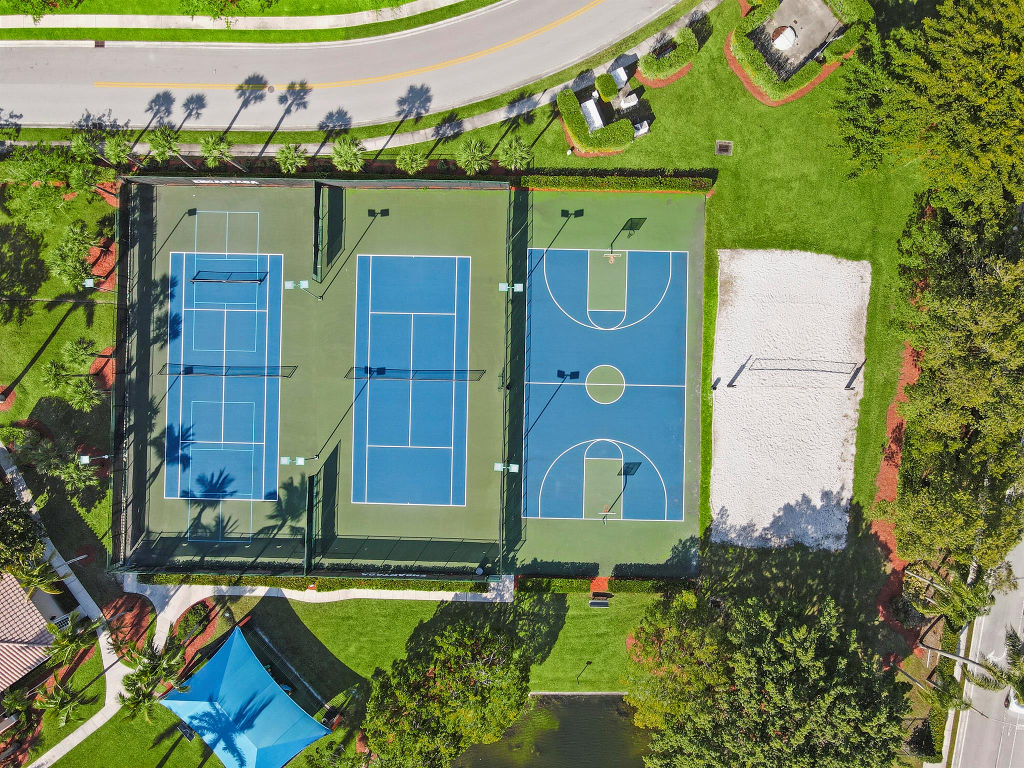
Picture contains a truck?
No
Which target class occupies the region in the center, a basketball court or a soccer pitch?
basketball court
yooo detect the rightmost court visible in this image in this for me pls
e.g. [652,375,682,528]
[708,248,872,550]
